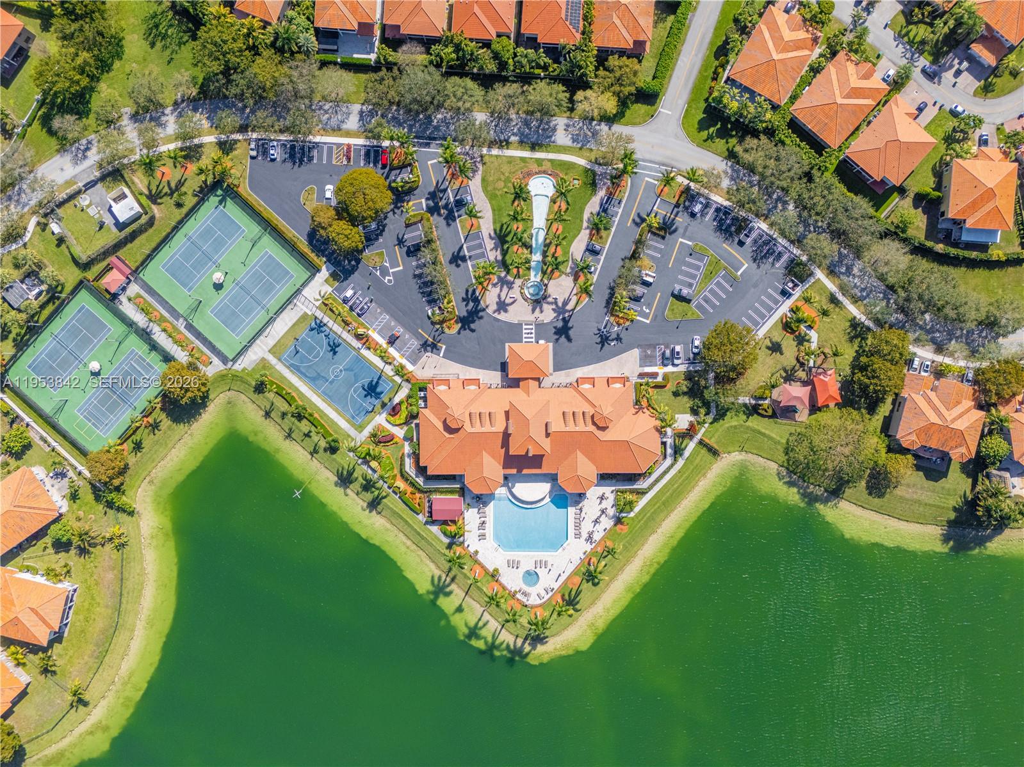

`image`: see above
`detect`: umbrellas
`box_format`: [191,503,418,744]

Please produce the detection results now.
[90,360,105,372]
[213,272,227,284]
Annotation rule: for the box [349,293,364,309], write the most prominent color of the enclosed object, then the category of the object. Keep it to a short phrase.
gray car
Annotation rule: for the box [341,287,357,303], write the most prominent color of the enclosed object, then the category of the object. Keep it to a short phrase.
white car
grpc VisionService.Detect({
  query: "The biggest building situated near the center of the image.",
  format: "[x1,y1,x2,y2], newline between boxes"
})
[419,343,660,494]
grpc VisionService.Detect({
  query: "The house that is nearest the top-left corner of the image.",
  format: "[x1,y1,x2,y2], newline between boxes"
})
[0,7,41,77]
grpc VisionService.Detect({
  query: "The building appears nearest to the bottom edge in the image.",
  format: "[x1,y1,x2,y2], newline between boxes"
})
[0,657,31,712]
